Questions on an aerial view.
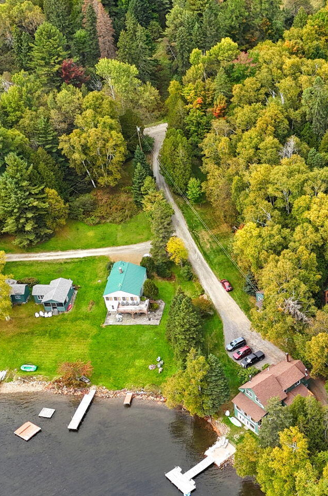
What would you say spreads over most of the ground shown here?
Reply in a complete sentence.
For the most part, this view shows trees.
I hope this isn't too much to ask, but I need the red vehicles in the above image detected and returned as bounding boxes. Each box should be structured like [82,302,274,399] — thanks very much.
[231,345,252,360]
[220,278,233,292]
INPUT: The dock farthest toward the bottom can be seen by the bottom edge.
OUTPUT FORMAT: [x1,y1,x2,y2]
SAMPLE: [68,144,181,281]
[165,456,214,496]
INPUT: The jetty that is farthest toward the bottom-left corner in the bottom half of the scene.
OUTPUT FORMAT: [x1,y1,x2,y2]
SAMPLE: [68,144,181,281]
[67,389,98,430]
